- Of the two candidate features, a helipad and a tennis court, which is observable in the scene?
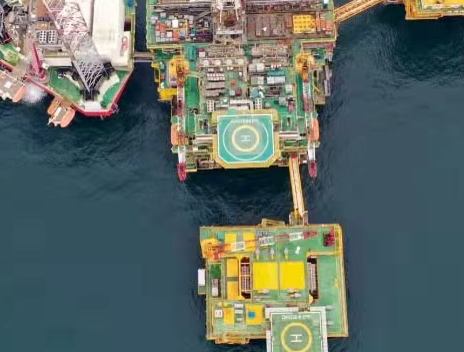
helipad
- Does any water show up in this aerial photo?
Yes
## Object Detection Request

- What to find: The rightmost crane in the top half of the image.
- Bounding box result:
[296,48,316,180]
